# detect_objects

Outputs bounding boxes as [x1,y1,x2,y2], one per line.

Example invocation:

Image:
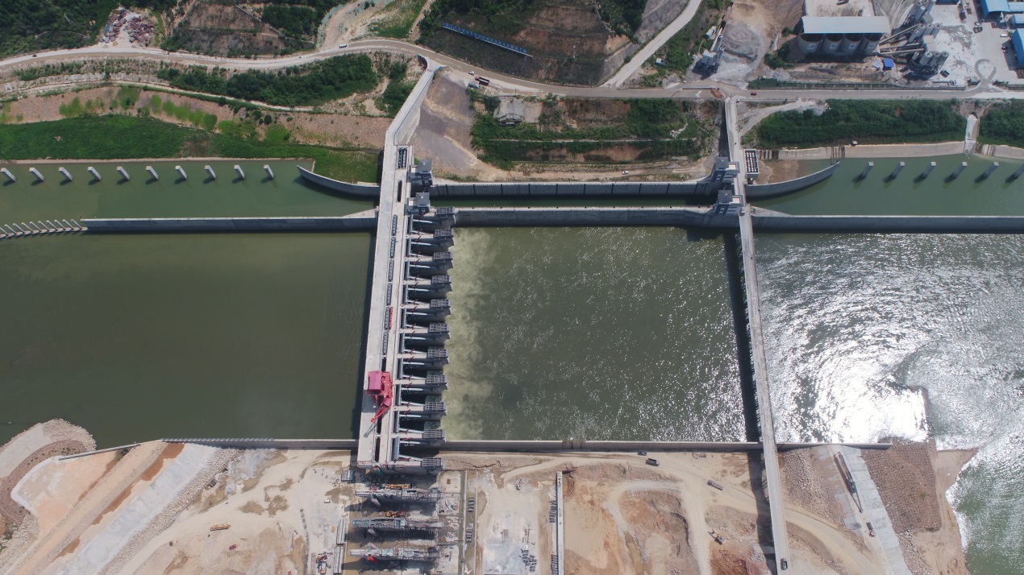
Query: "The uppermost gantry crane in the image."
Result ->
[365,373,398,428]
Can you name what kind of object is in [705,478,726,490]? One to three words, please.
vehicle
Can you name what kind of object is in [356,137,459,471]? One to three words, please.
dam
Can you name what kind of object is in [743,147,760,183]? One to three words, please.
building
